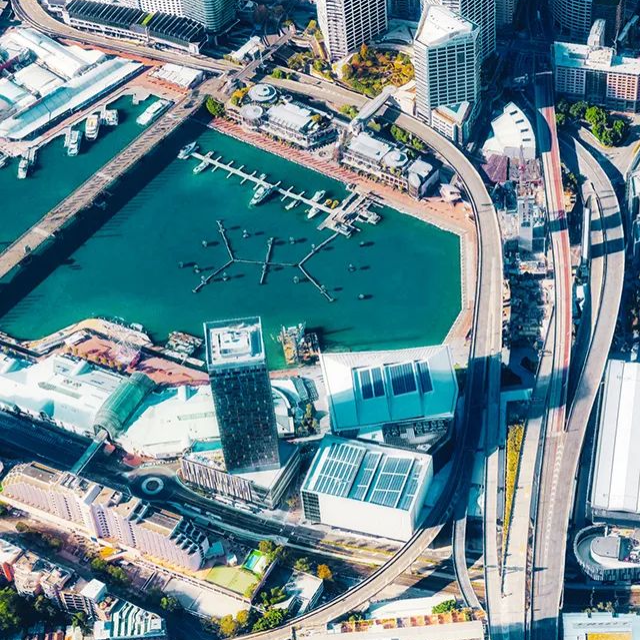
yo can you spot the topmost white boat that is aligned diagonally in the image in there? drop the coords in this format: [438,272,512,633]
[138,96,164,126]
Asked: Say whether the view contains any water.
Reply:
Yes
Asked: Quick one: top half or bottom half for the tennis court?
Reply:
bottom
